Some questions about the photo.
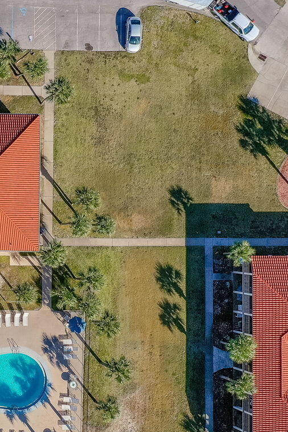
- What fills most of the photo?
grass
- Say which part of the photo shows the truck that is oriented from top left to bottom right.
top right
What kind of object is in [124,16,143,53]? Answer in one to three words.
car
